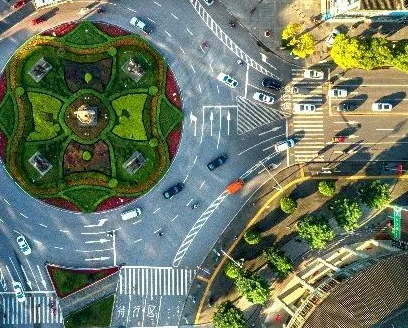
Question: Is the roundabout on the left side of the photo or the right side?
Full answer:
The roundabout is on the left side of the image.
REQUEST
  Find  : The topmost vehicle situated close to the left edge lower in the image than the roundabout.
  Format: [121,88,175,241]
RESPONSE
[15,232,32,256]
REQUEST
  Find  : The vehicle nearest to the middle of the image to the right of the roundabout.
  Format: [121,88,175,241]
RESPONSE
[206,152,229,172]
